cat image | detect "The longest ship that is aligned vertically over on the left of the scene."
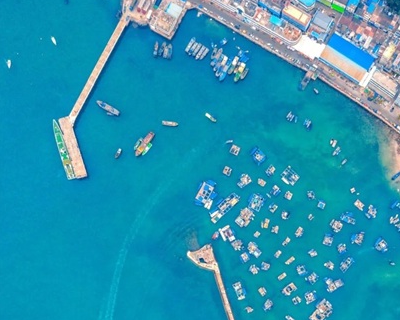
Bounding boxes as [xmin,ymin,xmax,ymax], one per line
[54,118,72,179]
